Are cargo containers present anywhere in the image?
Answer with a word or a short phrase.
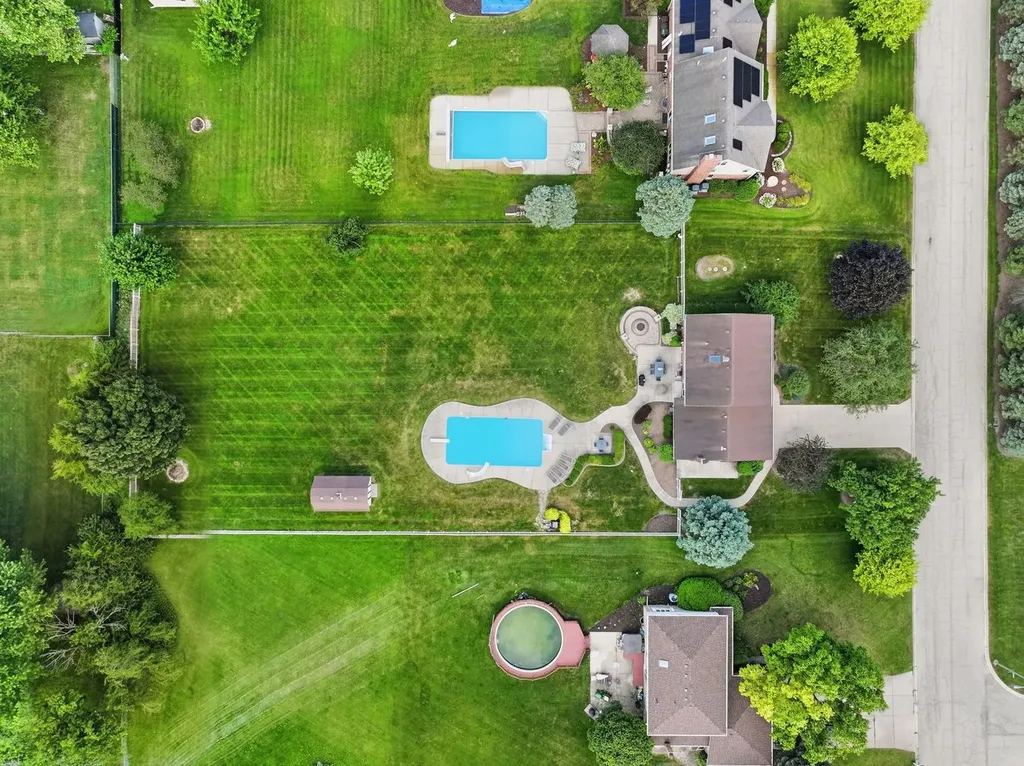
No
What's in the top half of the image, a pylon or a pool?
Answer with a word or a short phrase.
pool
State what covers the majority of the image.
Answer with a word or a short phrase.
grass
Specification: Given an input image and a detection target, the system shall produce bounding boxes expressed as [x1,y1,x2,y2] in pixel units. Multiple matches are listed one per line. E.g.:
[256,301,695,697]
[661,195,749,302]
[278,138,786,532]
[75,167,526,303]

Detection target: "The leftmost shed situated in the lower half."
[310,475,377,512]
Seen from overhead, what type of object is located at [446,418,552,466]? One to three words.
swimming pool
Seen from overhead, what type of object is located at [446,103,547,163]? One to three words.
swimming pool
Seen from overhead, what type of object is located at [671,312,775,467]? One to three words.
house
